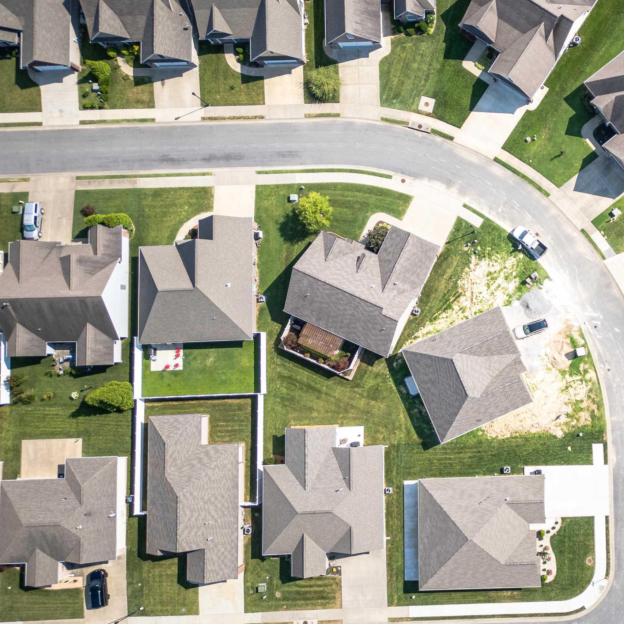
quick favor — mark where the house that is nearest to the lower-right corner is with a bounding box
[419,474,545,591]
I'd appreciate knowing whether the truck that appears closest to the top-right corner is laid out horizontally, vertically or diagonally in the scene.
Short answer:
diagonally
